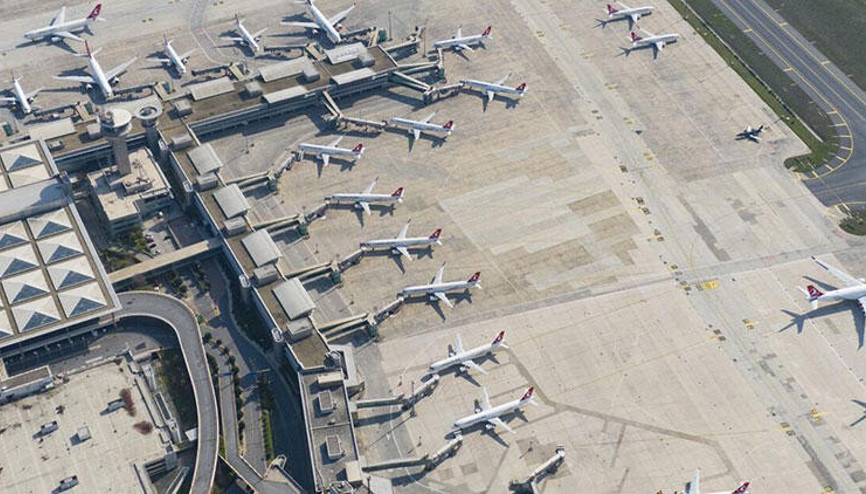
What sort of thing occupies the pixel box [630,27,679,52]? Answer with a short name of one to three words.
airplane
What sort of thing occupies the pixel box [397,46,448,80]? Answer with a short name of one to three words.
jet bridge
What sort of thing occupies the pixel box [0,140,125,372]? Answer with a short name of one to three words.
building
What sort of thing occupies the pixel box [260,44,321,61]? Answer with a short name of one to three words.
jet bridge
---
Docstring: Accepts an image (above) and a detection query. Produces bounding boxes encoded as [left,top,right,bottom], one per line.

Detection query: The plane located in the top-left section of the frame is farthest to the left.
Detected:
[0,73,48,113]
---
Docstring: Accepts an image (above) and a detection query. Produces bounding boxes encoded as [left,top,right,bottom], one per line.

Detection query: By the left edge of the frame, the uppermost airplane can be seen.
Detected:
[25,6,104,43]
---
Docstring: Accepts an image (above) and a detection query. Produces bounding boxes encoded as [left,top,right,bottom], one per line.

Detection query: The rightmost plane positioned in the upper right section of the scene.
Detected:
[735,123,764,140]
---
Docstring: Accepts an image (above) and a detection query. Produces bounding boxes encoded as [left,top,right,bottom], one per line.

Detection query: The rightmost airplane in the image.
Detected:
[796,255,866,319]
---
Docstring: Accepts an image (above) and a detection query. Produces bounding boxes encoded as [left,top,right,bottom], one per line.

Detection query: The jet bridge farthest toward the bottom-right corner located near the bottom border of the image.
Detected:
[521,449,567,494]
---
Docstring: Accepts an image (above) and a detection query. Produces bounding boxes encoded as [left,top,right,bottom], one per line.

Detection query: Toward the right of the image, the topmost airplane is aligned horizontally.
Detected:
[606,1,654,25]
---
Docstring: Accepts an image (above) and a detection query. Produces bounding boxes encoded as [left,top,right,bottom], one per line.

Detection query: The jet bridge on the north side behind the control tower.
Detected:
[30,102,88,122]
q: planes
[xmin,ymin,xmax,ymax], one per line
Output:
[362,217,441,263]
[735,123,764,140]
[25,6,104,43]
[433,25,493,53]
[465,72,528,102]
[390,109,456,141]
[220,14,270,52]
[606,1,654,25]
[402,262,481,309]
[299,133,364,167]
[279,0,358,44]
[0,73,48,113]
[147,35,199,74]
[630,27,679,52]
[52,42,139,99]
[430,332,509,376]
[452,388,538,435]
[332,176,404,216]
[796,255,866,319]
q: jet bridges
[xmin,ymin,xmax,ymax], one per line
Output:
[521,449,567,494]
[30,102,88,122]
[355,372,445,414]
[251,200,334,241]
[188,63,244,82]
[285,246,368,289]
[336,27,380,47]
[382,25,427,58]
[316,294,408,348]
[387,72,468,108]
[260,44,321,61]
[322,92,391,134]
[224,151,301,198]
[109,82,167,102]
[397,46,448,80]
[360,432,467,476]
